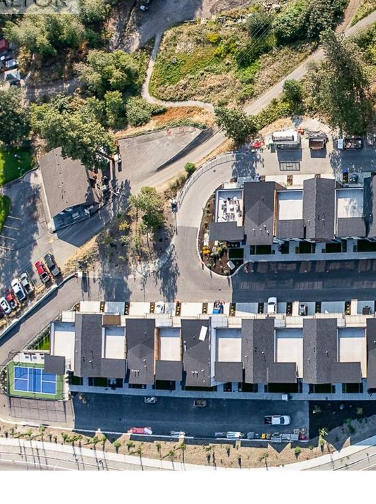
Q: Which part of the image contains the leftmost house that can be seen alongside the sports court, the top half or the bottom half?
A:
bottom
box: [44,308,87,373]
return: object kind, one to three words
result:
house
